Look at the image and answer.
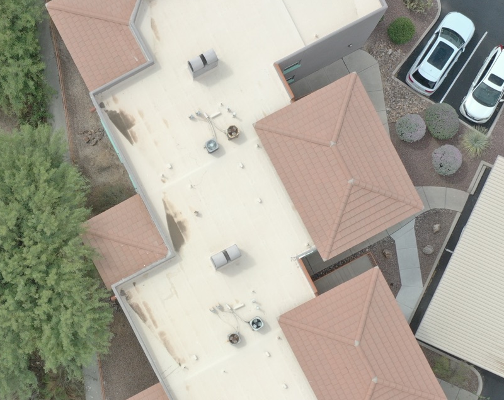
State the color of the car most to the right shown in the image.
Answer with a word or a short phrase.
white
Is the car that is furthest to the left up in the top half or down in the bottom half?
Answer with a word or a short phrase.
top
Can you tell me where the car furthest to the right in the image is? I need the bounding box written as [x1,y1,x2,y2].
[459,45,504,129]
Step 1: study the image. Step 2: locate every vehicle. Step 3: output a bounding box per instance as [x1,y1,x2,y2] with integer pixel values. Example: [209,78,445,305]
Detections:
[459,45,504,129]
[404,12,472,103]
